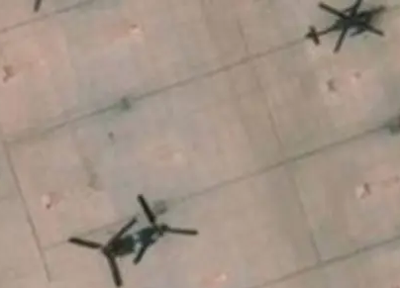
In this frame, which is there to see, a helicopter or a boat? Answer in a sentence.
This aerial view contains a helicopter.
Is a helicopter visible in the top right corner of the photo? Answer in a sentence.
Yes, looking in the top right corner of the photo, one can make out a helicopter.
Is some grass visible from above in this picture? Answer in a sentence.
No, the scene doesn't show any grass.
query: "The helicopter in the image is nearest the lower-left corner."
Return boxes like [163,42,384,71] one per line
[65,193,203,288]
